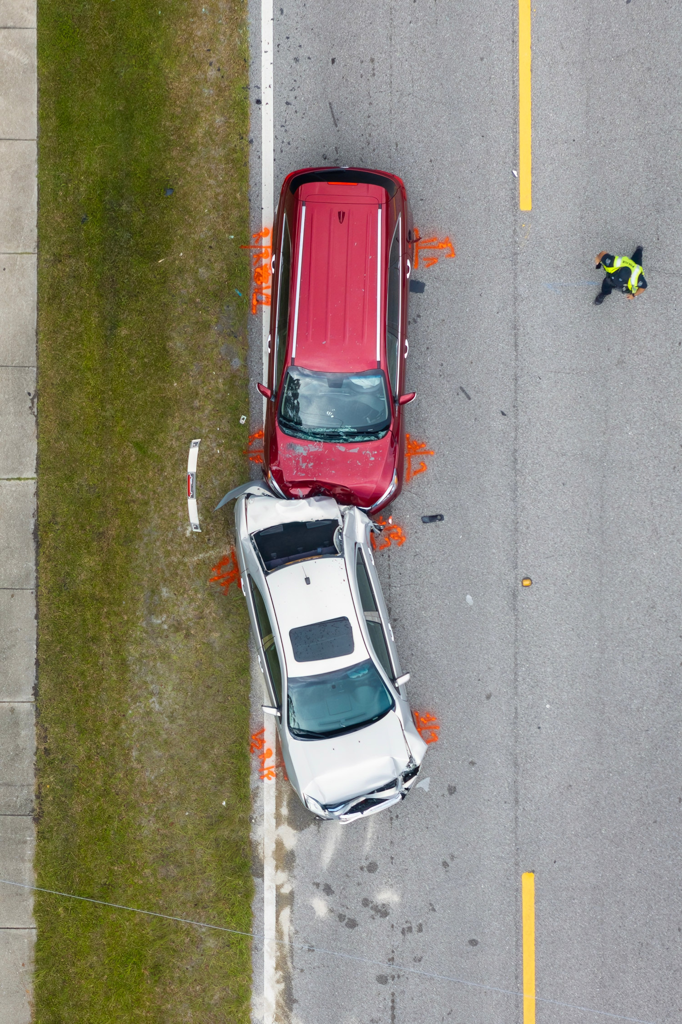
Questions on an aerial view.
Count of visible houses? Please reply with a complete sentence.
The count of houses is 0.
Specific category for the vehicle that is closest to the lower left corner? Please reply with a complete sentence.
In the photo, the vehicle that is closest to the lower left corner shows up as an automobile.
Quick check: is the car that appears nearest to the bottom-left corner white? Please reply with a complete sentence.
Yes, the car that appears nearest to the bottom-left corner is indeed white.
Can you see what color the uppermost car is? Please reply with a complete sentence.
The color of the uppermost car is red.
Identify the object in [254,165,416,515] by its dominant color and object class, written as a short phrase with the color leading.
red car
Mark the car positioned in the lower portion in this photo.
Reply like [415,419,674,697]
[213,477,428,824]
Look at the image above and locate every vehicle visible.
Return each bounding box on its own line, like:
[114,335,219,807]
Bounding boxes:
[213,477,428,824]
[254,165,416,515]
